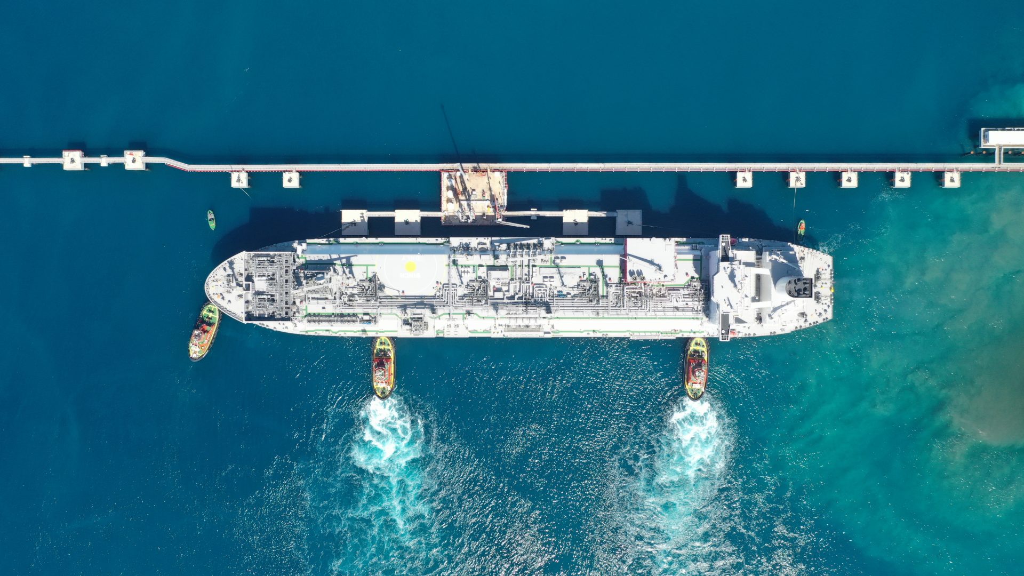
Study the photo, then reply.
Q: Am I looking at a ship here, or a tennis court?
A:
ship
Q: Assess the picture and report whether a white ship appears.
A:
Yes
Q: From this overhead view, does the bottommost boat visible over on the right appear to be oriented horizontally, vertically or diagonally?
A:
vertically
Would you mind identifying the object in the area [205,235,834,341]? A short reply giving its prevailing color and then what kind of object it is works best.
white ship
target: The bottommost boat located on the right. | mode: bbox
[684,337,709,400]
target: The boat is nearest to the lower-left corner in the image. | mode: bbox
[190,302,221,361]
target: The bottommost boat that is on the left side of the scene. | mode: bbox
[371,337,396,399]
